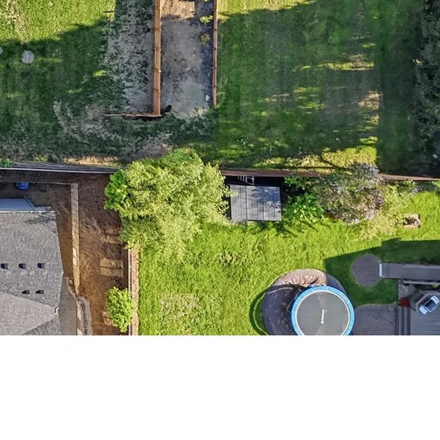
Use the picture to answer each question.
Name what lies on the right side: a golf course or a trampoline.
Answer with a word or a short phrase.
trampoline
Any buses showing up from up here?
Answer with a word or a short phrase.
No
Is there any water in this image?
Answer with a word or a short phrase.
No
